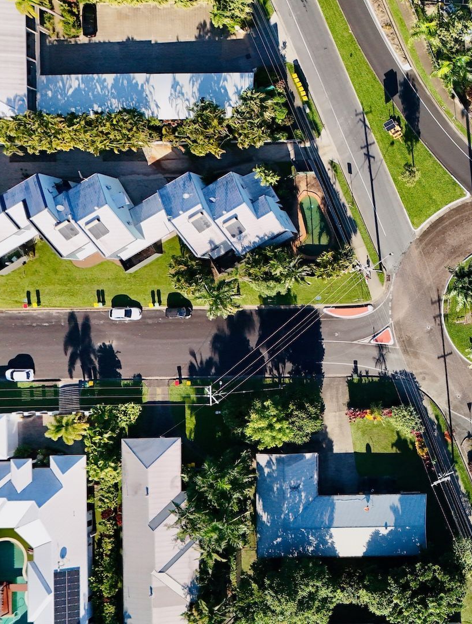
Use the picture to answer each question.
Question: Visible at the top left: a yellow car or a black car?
black car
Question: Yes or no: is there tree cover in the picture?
Yes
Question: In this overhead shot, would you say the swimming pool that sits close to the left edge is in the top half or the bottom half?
bottom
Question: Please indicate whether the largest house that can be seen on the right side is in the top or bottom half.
bottom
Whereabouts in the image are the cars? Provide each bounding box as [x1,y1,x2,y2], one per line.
[109,307,141,322]
[4,369,37,384]
[78,3,99,39]
[159,305,198,322]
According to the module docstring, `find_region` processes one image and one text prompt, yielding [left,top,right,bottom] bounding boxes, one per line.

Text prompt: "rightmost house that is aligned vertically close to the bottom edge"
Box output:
[122,437,208,624]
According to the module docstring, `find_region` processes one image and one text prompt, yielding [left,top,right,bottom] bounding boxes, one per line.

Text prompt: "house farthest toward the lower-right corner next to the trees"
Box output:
[257,450,430,559]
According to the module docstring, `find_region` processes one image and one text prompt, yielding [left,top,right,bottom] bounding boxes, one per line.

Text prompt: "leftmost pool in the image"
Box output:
[0,539,27,624]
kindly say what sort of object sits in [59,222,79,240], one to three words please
solar panel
